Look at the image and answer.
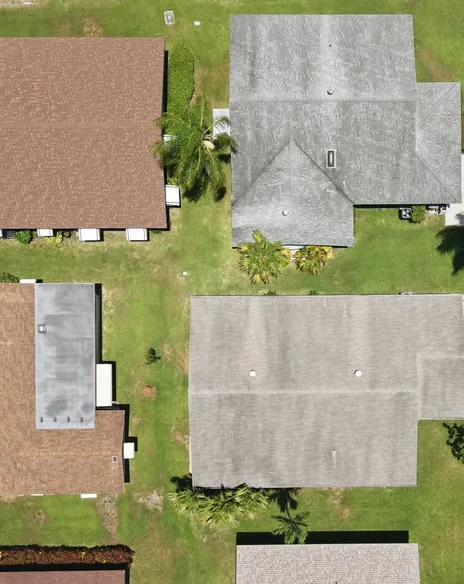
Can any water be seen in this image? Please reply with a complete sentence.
No, there is no water in the image.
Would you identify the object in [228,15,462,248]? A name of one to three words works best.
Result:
house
